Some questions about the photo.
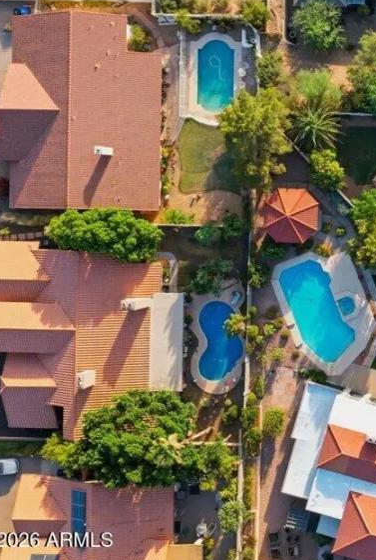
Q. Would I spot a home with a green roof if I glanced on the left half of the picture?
No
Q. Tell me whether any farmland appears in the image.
No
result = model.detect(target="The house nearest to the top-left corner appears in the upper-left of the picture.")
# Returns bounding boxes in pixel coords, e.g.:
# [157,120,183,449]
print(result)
[0,11,164,210]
